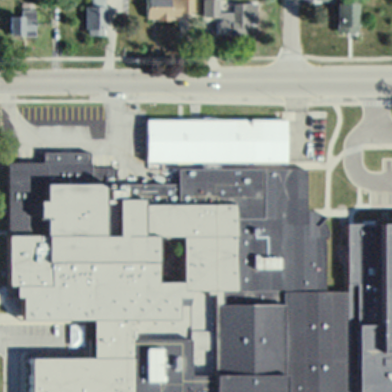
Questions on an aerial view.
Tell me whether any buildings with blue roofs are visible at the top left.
No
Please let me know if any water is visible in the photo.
No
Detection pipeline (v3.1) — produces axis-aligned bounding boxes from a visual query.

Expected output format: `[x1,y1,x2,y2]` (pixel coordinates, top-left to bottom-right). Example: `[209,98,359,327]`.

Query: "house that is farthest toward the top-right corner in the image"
[337,2,362,34]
